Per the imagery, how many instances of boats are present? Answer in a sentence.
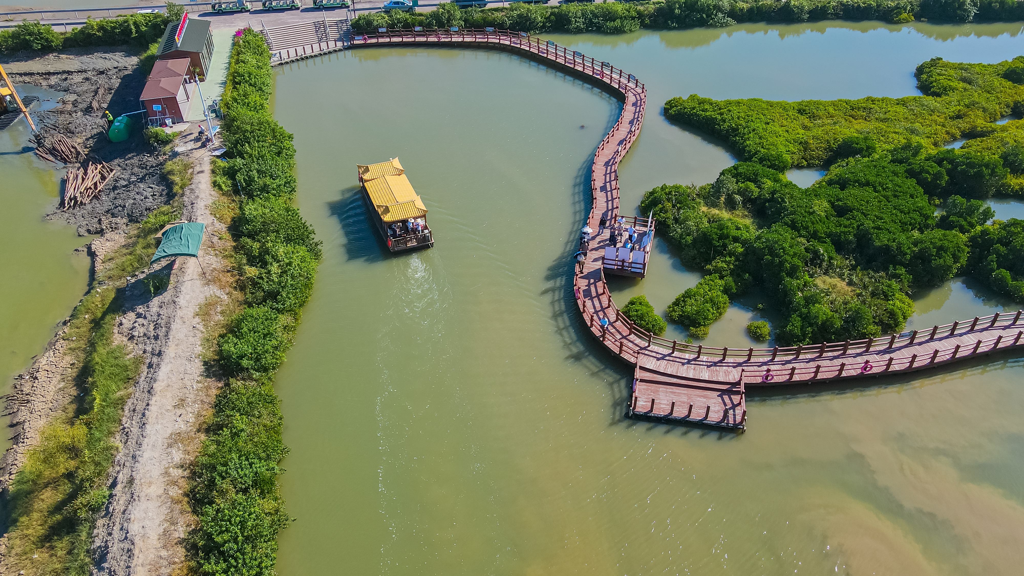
The photo contains exactly 1 boat.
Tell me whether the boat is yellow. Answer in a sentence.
Yes, yellow is the color of the boat.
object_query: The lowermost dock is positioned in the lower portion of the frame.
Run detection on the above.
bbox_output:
[627,354,748,437]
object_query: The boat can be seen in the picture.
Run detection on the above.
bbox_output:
[355,155,434,253]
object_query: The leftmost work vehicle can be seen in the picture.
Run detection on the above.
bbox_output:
[0,59,49,147]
